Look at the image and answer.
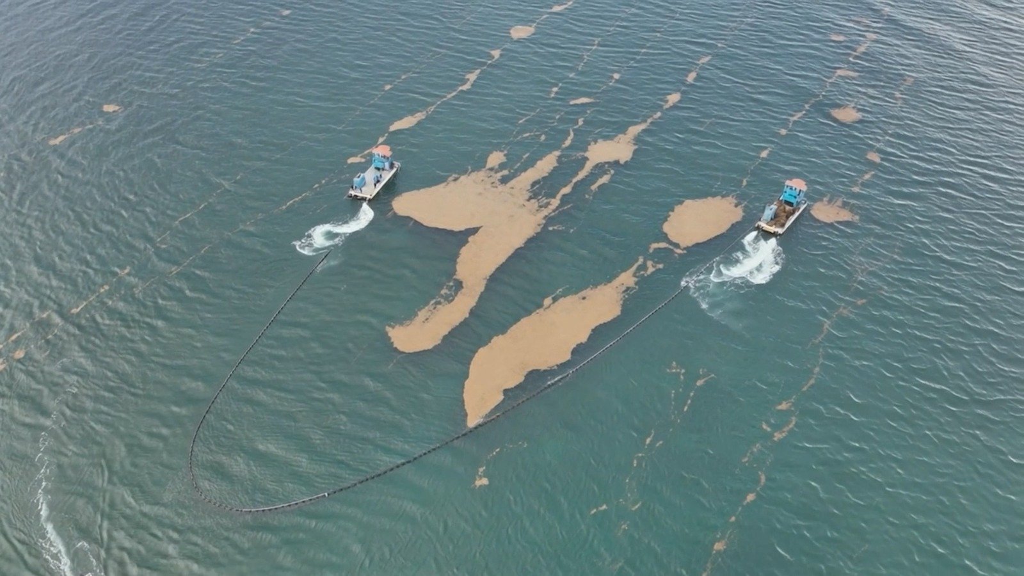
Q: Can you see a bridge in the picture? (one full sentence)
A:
No, I find no bridge anywhere in the image.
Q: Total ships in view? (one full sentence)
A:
The number of ships here is 2.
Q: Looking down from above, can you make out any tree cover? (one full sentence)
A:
No, no tree cover is visible.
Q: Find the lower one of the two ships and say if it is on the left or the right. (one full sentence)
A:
It is on the right.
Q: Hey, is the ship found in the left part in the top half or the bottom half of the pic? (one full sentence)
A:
The top half of the photo is where the ship found in the left part is.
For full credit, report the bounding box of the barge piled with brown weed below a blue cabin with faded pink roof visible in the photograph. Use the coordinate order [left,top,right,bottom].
[756,185,808,238]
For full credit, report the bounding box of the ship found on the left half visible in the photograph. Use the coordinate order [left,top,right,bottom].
[350,150,399,202]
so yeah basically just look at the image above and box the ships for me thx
[350,150,399,202]
[756,185,808,238]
